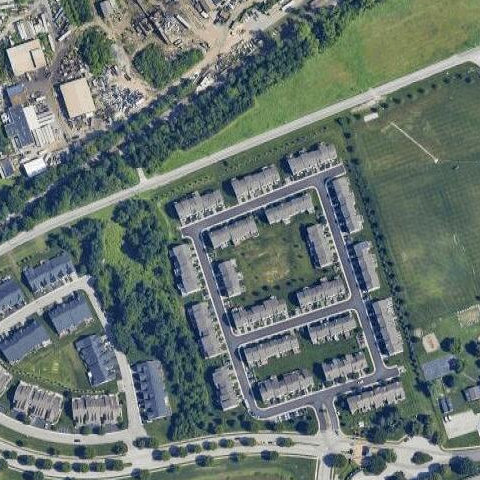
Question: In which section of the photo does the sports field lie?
right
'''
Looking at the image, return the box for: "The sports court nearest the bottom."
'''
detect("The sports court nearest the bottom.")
[422,354,455,381]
